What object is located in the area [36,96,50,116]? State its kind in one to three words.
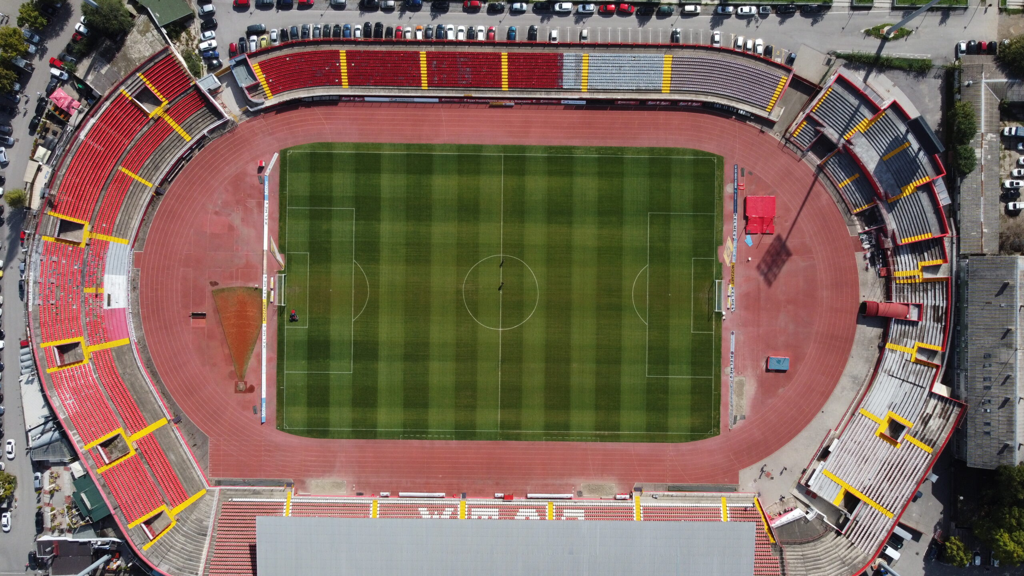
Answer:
car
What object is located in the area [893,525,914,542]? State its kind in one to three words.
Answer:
vehicle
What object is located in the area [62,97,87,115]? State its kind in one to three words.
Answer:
umbrella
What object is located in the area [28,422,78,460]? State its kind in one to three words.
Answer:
building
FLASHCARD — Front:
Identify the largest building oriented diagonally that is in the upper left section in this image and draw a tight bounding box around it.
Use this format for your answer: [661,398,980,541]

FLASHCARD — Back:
[66,15,169,95]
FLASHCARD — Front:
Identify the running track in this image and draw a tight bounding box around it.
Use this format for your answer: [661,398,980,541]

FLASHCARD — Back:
[134,104,869,497]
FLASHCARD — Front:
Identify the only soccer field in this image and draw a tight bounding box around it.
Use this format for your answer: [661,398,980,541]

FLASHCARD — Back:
[277,142,723,443]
